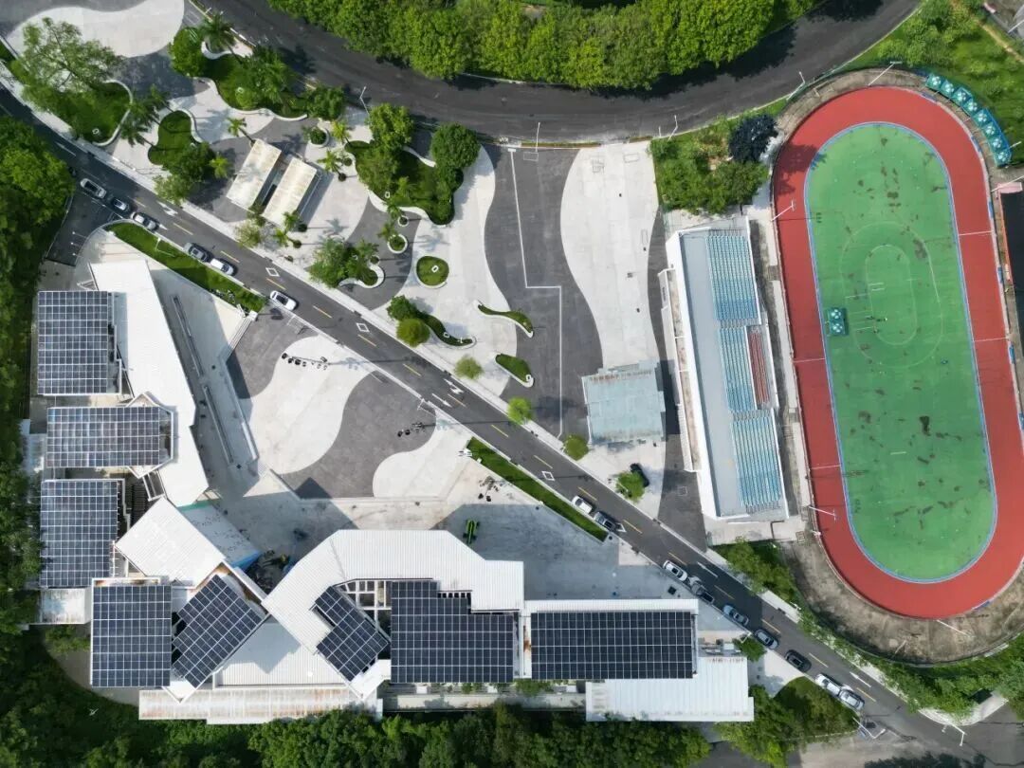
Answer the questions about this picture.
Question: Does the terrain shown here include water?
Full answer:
No, there's no water in this view.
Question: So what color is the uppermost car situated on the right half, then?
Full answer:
The color of the uppermost car situated on the right half is black.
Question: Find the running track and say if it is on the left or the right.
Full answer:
The running track appears in the right half of the scene.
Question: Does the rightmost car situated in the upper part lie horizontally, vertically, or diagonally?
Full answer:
The rightmost car situated in the upper part has been laid out diagonally relative to the frame.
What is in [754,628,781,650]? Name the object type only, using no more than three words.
car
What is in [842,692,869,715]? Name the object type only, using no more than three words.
car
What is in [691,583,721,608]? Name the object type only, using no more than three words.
truck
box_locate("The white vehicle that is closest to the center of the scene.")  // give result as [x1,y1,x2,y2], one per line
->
[569,494,593,514]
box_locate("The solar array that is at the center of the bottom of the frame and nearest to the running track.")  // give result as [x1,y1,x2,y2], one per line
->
[531,611,691,679]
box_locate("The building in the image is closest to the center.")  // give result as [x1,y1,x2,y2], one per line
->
[581,360,666,444]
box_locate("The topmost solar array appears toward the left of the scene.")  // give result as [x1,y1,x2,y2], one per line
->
[35,291,112,394]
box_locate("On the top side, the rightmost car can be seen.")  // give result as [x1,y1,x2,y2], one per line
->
[268,289,295,311]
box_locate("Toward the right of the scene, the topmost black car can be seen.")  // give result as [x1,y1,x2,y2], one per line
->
[629,460,653,486]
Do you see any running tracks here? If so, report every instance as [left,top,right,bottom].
[768,81,1024,625]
